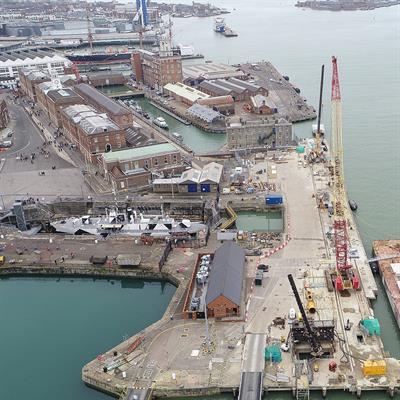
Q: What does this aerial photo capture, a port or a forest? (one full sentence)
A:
This looks like a port.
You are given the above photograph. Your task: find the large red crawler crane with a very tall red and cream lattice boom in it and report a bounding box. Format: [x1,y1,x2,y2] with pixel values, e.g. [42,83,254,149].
[320,55,364,304]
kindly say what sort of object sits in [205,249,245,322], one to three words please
building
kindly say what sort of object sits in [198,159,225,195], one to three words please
shed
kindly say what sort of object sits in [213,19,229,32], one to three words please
ship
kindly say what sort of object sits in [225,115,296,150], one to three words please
building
